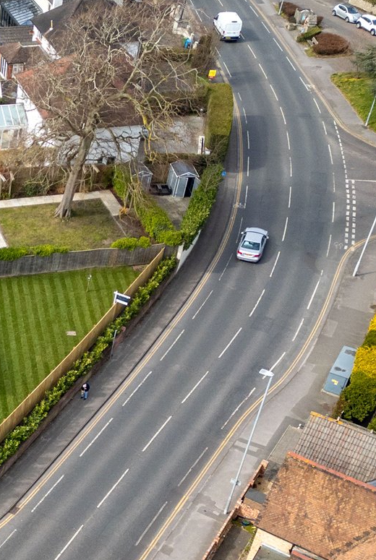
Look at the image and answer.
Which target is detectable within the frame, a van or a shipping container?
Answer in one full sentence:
The one in the frame is a van.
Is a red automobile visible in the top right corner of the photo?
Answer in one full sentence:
No, there is no red automobile in the top right corner of the photo.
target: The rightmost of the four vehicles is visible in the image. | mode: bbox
[352,12,376,36]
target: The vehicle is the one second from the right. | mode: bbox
[326,5,357,24]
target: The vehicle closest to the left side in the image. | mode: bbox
[213,15,243,46]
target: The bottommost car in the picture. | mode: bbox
[236,229,269,265]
